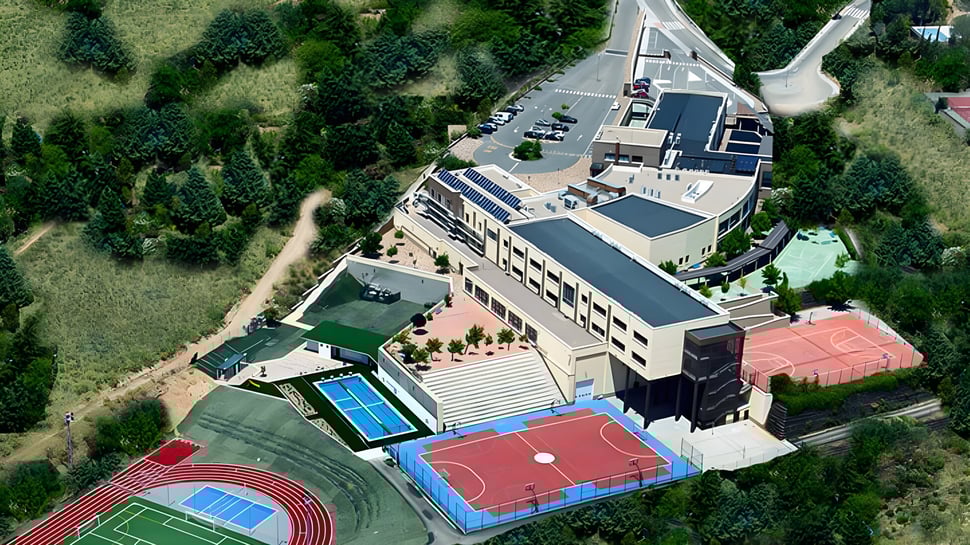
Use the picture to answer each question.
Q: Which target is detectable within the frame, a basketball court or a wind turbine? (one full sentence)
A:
I can see a basketball court in this picture.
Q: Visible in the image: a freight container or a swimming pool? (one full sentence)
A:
Visible in the photo is a swimming pool.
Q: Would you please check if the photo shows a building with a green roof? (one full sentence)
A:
Yes, a building with a green roof can be made out from above.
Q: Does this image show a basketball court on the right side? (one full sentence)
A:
Yes, a basketball court can be seen on the right side.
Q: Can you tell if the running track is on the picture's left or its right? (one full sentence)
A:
It is on the left.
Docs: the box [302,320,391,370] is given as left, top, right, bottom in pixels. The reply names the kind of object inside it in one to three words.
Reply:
building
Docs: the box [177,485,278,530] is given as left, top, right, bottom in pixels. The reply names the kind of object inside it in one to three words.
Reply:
sports court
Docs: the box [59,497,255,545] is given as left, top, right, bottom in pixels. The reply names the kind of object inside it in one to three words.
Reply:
soccer field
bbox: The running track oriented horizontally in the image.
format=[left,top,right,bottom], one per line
[4,438,332,545]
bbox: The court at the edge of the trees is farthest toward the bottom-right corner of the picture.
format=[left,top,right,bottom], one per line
[740,315,920,387]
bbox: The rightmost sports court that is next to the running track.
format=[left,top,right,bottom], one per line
[390,391,699,531]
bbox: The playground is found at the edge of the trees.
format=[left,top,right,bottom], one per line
[698,228,868,309]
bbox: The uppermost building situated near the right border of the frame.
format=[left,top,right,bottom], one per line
[923,92,970,162]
